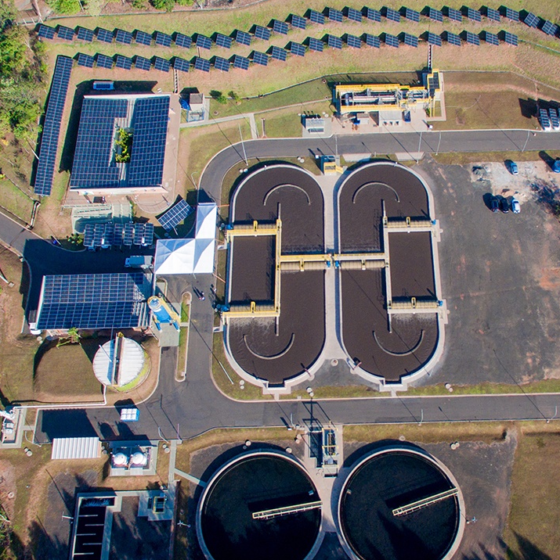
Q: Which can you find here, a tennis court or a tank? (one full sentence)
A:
Looking from above, you can make out a tank.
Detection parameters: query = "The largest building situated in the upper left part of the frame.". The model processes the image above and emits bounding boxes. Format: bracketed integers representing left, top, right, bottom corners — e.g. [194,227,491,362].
[70,93,173,197]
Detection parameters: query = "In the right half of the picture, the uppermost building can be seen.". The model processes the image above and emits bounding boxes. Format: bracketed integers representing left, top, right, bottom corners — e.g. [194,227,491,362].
[332,66,441,118]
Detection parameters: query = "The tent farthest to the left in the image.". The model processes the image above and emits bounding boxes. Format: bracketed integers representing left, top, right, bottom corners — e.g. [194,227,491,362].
[155,239,196,279]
